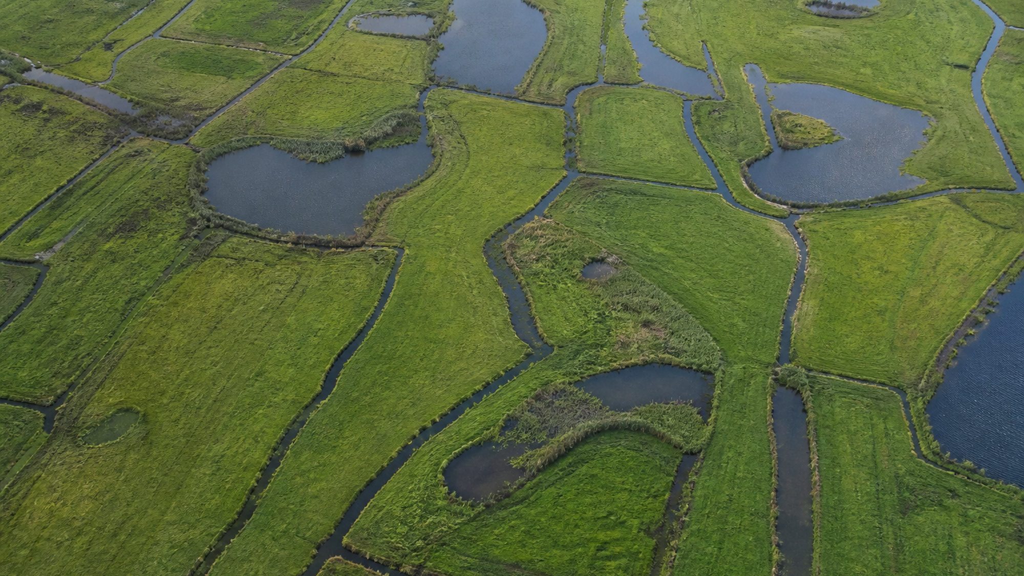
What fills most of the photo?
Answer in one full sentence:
Most of the picture is covered by grass.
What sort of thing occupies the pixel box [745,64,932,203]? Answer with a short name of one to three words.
pond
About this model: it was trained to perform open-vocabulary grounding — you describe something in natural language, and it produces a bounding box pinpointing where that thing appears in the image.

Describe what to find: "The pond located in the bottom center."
[444,363,715,501]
